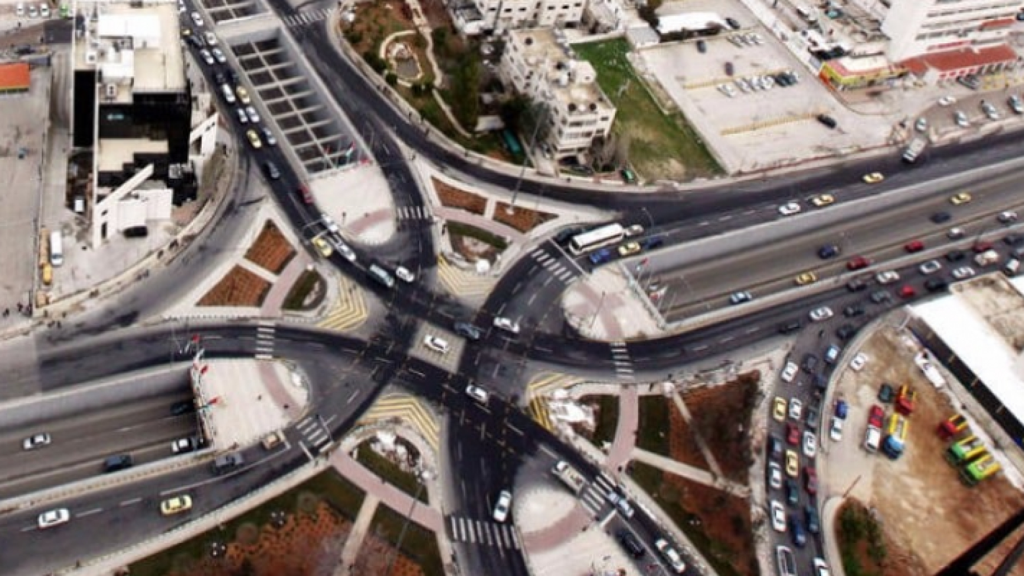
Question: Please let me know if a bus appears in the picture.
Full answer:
Yes, a bus appears in the view.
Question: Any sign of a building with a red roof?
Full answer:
Yes, you can see a building with a red roof in this photo.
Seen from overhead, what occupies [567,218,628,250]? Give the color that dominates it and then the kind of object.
white bus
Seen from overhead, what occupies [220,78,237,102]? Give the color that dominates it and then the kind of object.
white vehicle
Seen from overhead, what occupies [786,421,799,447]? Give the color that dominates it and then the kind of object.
red vehicle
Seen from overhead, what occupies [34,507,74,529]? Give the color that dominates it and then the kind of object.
white car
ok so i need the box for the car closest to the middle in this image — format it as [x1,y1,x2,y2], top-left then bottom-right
[491,312,522,335]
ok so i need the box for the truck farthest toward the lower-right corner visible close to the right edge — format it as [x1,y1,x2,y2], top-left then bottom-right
[961,450,1008,483]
